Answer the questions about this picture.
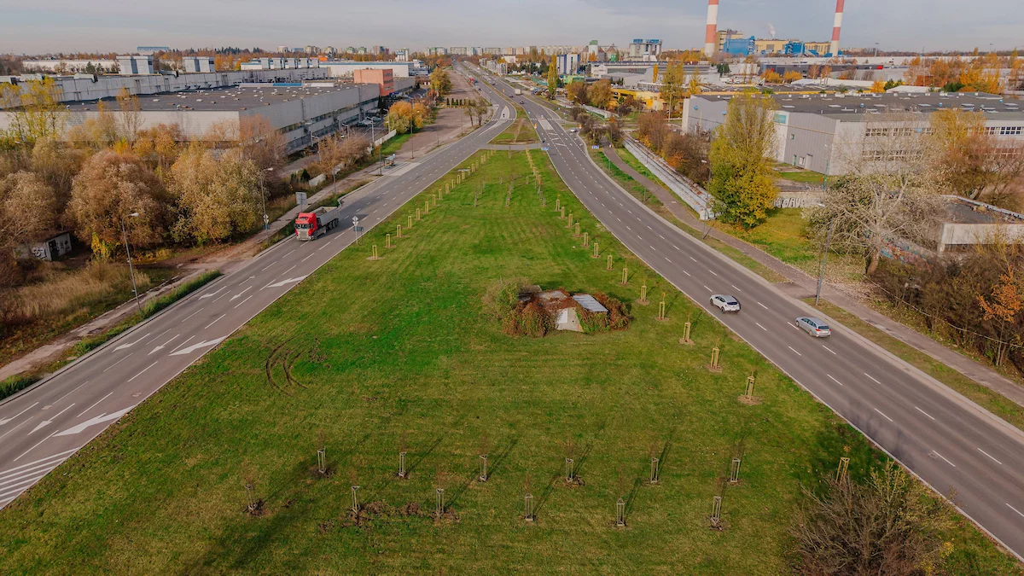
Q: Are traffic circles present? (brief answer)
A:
No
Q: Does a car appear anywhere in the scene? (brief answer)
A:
Yes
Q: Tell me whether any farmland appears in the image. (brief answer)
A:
No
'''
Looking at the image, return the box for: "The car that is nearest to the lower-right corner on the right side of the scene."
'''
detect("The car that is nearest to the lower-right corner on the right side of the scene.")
[795,315,834,336]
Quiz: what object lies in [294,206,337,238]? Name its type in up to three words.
truck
